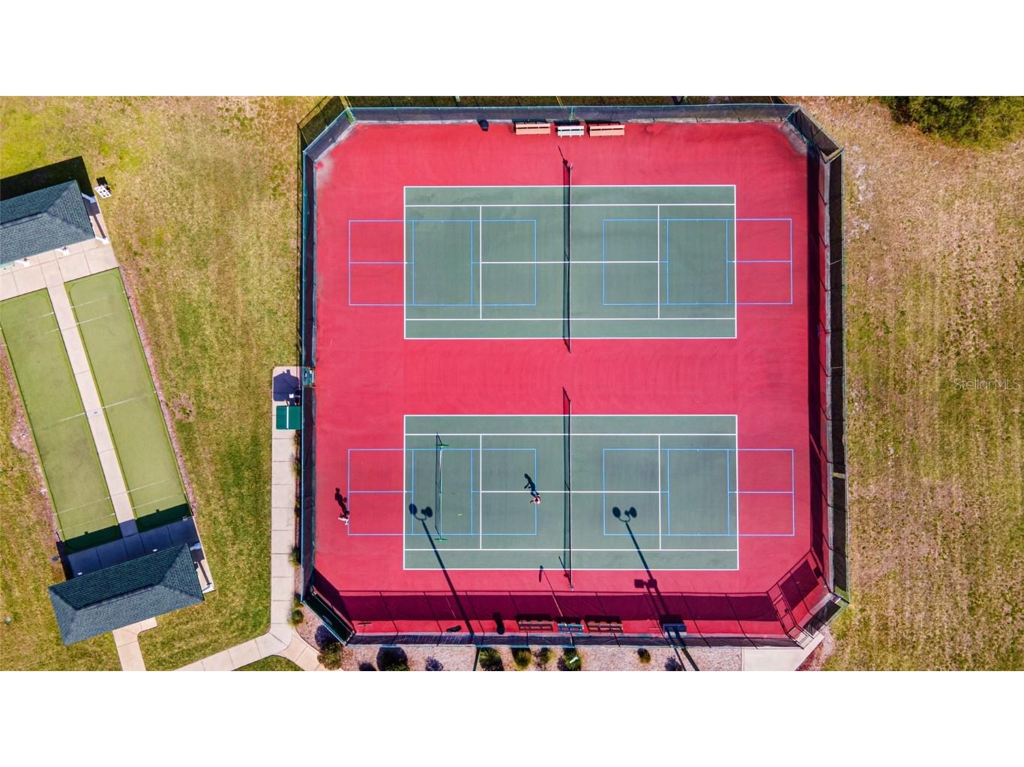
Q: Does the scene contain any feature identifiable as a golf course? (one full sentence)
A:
No, the photo shows no golf course.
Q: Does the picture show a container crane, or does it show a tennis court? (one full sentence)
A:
Visible in the photo is a tennis court.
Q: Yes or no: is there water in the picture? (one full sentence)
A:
No, there is no water in the image.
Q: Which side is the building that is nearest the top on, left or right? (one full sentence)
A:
You can find the building that is nearest the top on the left side of the picture.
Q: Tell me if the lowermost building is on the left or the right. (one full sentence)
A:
The lowermost building is on the left side of the image.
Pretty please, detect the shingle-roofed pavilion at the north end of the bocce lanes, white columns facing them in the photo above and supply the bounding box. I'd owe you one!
[0,180,110,267]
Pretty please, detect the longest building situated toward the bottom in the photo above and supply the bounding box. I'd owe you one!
[48,542,216,645]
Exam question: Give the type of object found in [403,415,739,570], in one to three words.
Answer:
tennis court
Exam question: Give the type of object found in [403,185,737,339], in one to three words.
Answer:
tennis court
